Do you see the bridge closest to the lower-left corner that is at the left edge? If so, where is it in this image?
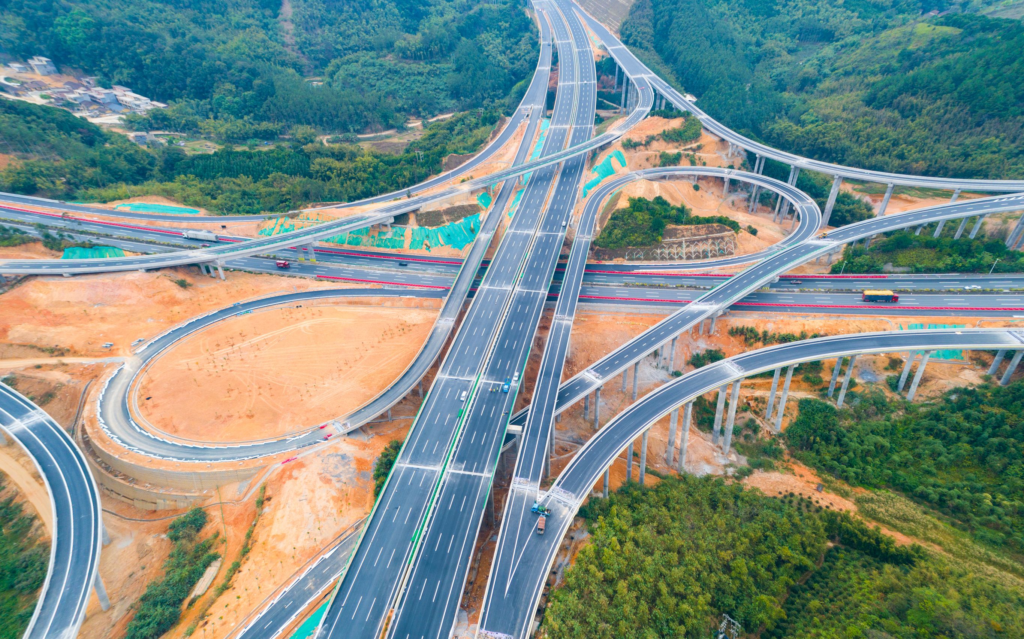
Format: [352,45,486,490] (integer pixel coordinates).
[0,382,119,639]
